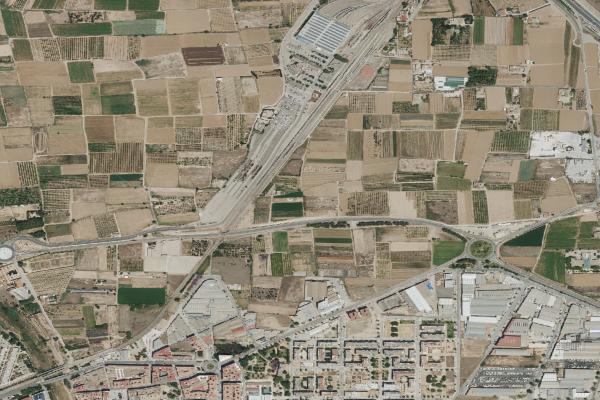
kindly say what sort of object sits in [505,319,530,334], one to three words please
building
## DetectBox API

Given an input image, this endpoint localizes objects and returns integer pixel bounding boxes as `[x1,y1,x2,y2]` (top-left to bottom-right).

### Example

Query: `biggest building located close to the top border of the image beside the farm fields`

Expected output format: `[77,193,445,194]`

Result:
[295,11,351,52]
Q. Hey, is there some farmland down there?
Yes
